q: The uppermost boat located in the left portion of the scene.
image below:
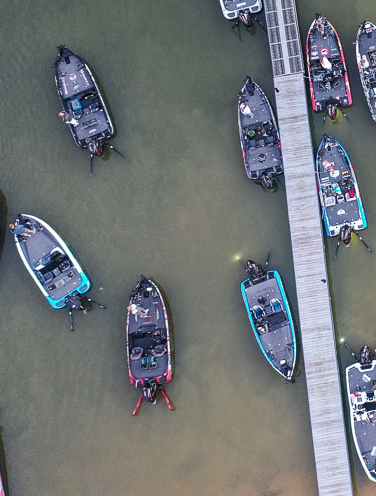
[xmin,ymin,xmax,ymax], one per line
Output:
[56,41,126,175]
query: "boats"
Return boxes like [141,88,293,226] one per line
[236,73,286,188]
[128,274,174,416]
[306,11,350,123]
[353,16,376,117]
[12,211,106,331]
[316,129,372,259]
[237,252,298,386]
[341,339,376,483]
[221,0,263,29]
[56,41,126,175]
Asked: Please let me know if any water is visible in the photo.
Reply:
Yes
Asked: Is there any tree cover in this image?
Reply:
No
